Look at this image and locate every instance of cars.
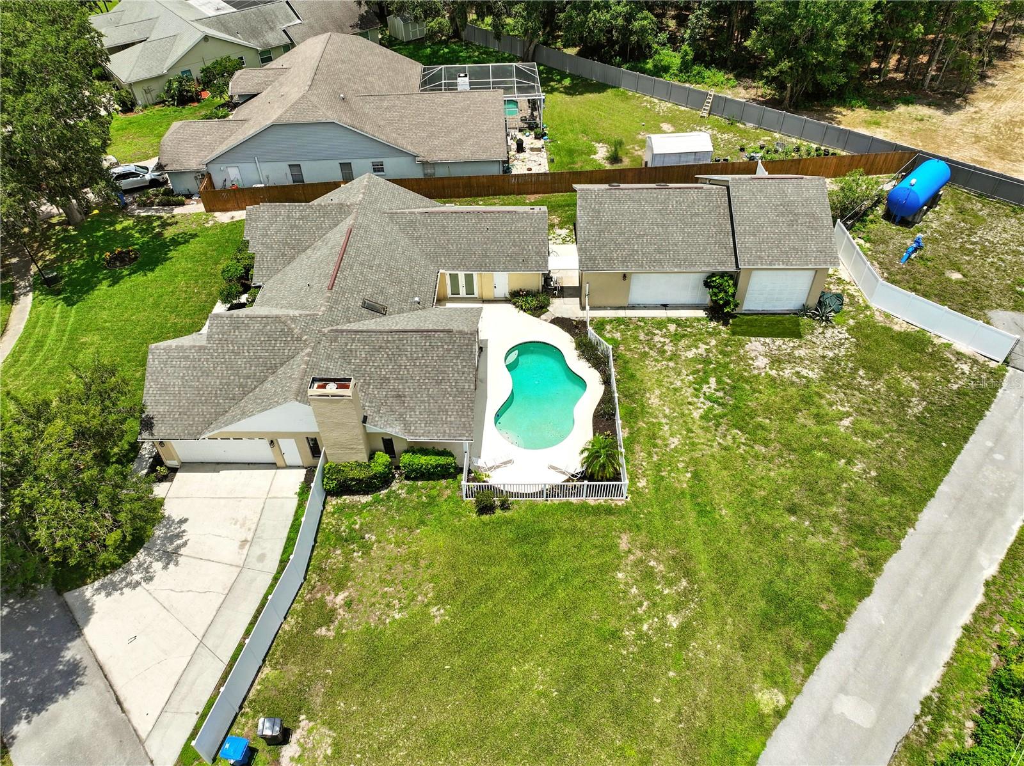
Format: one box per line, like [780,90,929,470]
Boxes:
[101,160,168,191]
[79,141,128,167]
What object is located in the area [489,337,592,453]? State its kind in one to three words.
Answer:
swimming pool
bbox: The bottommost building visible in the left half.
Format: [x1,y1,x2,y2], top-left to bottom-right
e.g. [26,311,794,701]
[139,173,549,471]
